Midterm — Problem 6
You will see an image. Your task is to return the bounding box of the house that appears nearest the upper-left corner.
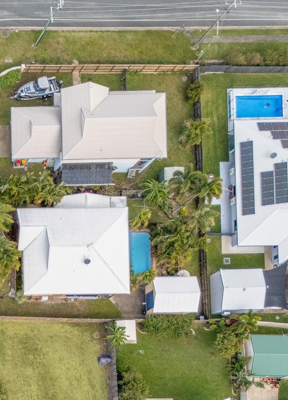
[8,81,168,190]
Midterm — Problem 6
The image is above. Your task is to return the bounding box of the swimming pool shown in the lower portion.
[129,230,155,277]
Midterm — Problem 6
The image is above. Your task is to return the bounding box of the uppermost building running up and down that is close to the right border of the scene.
[227,119,288,270]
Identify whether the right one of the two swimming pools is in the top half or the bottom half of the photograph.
top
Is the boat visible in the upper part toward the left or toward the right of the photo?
left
